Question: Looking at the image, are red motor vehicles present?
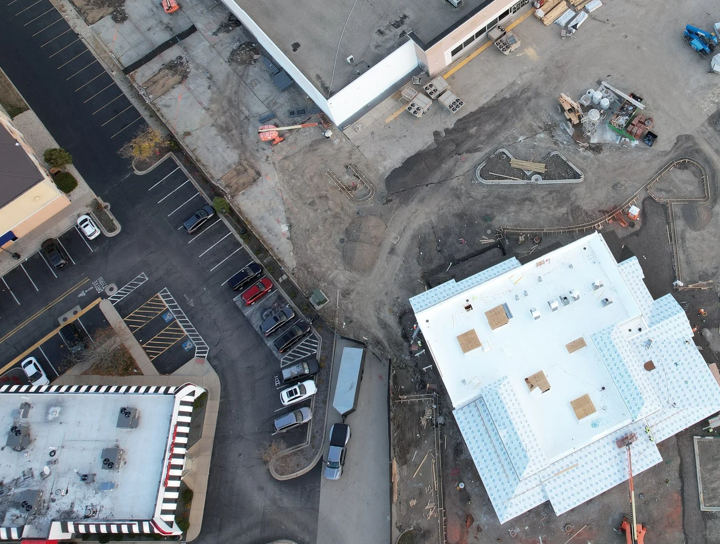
Yes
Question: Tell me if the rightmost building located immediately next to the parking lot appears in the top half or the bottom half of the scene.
bottom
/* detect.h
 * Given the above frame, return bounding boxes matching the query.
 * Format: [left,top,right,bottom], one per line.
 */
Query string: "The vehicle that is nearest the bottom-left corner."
[19,353,51,385]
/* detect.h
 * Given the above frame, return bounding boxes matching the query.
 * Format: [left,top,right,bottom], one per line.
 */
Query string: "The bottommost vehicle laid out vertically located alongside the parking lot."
[325,426,349,478]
